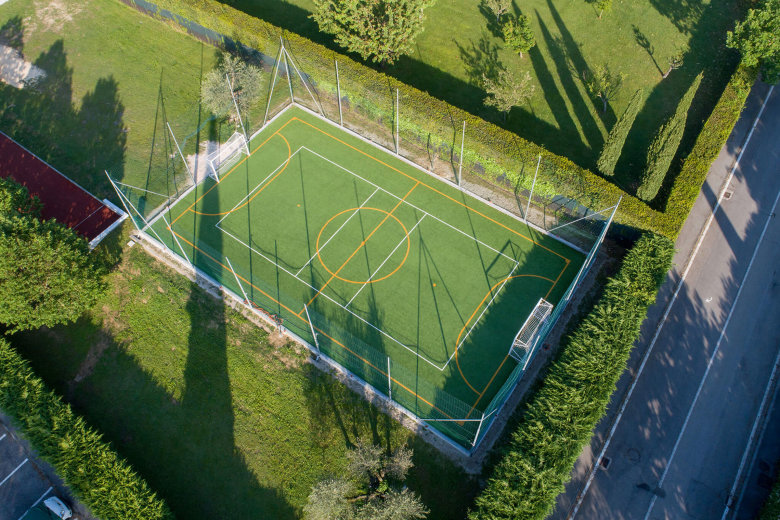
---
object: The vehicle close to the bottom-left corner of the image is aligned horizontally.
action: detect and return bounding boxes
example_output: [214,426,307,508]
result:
[20,499,71,520]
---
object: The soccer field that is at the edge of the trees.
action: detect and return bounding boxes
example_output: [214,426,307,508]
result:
[136,99,599,462]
